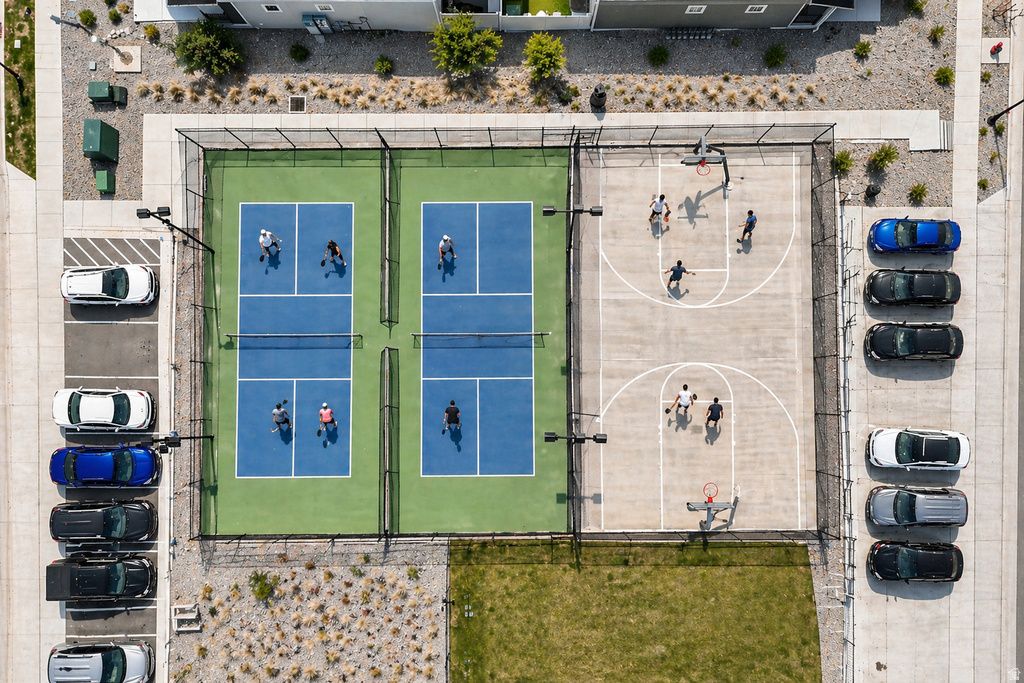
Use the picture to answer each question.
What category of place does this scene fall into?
sports ground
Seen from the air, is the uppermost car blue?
Yes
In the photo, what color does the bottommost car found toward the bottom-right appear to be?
black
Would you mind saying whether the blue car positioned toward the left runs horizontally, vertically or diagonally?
horizontally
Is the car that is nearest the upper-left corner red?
No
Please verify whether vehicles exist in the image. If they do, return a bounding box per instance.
[53,386,158,433]
[45,641,156,683]
[866,426,972,473]
[863,318,964,365]
[865,483,970,531]
[45,555,159,604]
[48,498,159,546]
[59,261,161,308]
[866,538,966,587]
[863,263,962,310]
[49,443,163,490]
[867,213,962,257]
